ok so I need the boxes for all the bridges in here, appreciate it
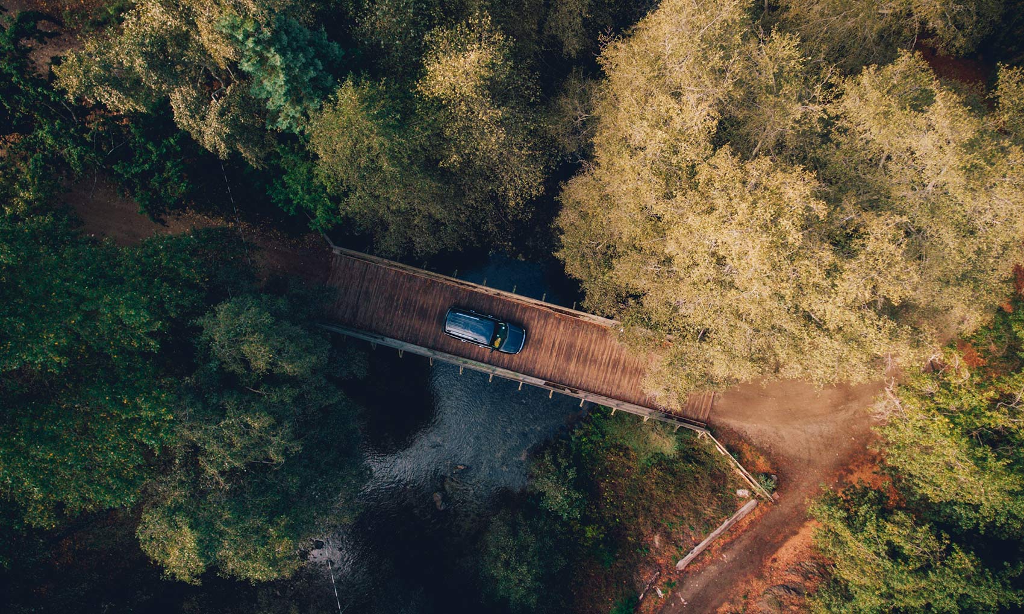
[310,240,717,436]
